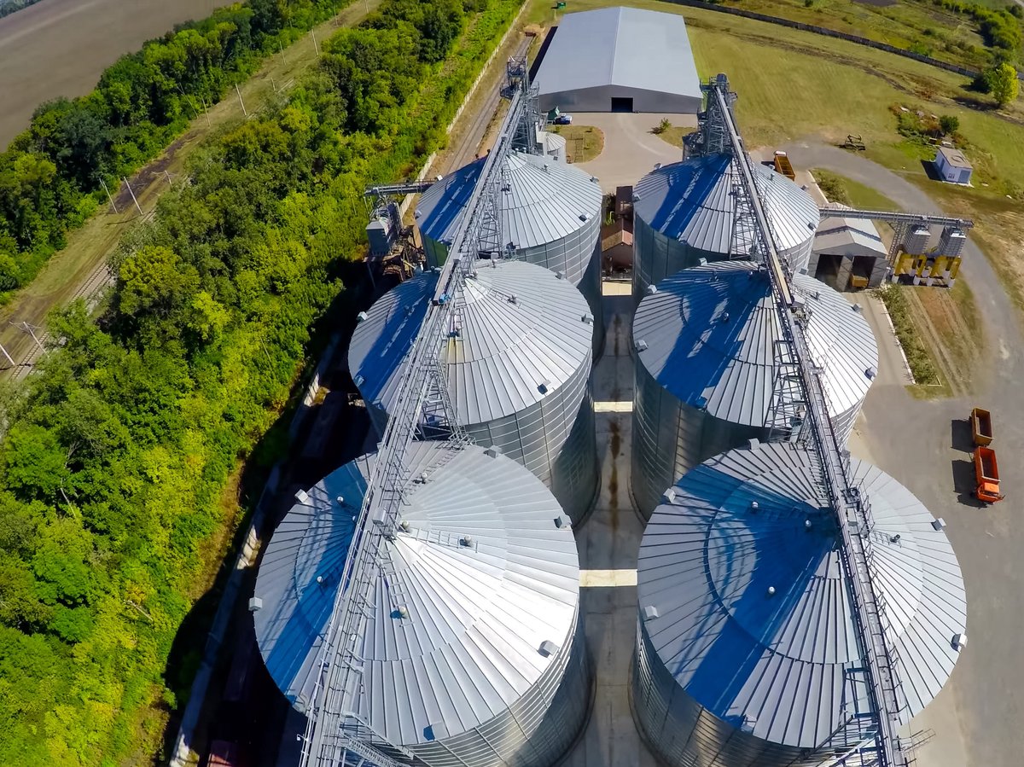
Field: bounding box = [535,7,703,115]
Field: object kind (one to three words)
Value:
building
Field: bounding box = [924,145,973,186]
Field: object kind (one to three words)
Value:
shed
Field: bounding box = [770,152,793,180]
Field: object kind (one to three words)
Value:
truck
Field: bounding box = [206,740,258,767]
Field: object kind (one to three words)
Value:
rail car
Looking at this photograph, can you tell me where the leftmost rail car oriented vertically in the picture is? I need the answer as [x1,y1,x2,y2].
[220,614,276,736]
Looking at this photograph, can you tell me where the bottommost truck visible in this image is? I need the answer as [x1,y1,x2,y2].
[971,442,1003,502]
